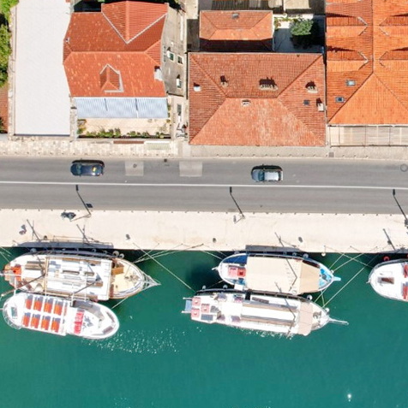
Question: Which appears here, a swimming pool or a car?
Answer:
car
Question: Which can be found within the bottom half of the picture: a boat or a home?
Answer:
boat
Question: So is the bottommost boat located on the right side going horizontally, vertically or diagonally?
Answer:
horizontally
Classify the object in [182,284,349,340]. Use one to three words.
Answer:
boat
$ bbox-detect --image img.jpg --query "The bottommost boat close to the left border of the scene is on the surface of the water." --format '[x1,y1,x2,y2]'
[0,291,124,337]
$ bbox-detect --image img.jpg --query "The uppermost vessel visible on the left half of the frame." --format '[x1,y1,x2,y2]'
[0,247,161,300]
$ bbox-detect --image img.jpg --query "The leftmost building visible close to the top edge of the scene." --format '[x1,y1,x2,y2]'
[15,0,84,136]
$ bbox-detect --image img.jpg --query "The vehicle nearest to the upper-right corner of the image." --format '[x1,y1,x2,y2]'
[252,166,282,182]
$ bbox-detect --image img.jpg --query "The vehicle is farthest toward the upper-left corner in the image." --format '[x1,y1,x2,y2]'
[72,161,105,177]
